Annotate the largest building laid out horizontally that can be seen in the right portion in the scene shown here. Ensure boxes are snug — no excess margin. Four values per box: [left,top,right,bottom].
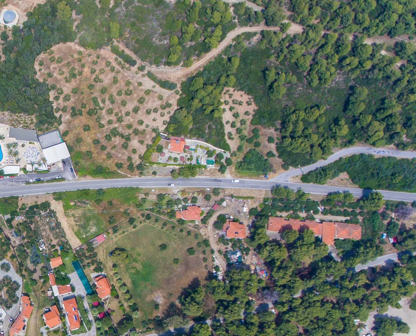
[266,217,362,245]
